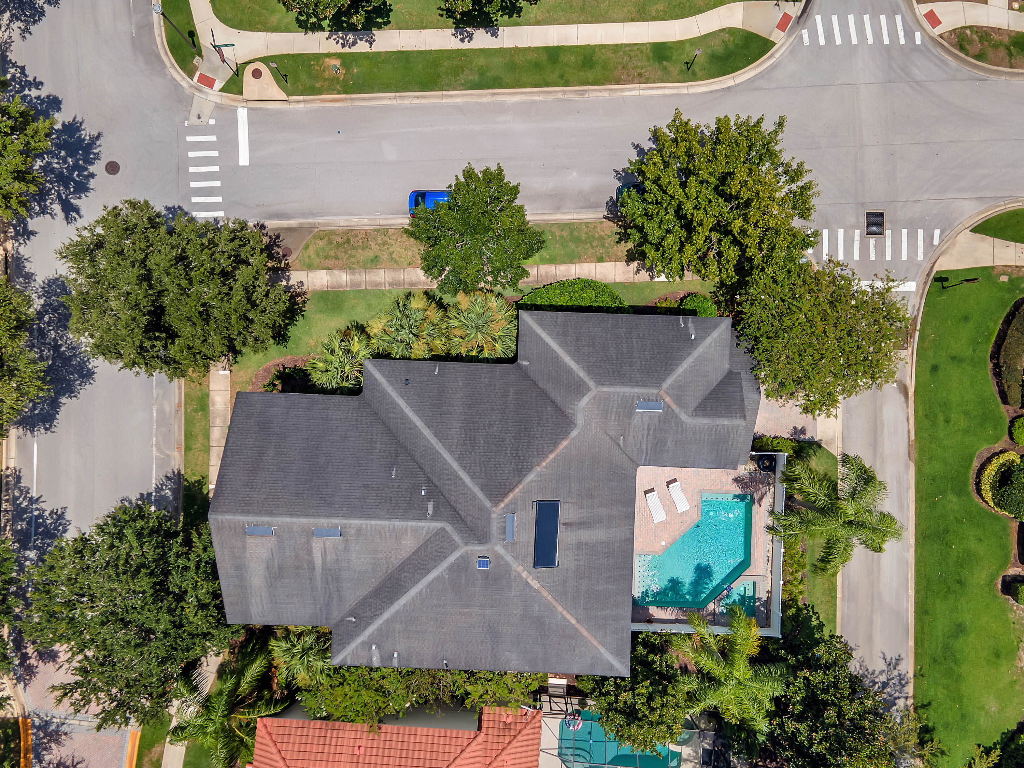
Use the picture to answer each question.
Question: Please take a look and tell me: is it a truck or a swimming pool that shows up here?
swimming pool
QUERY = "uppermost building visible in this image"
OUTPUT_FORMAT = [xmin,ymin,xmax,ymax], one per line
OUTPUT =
[207,308,763,676]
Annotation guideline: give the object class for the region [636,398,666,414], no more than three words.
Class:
solar panel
